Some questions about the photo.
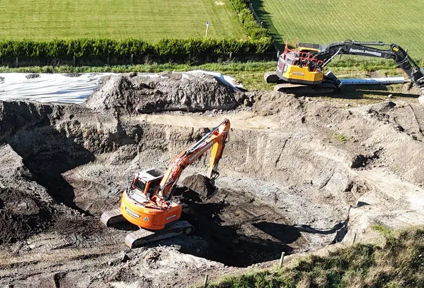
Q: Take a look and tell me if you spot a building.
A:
No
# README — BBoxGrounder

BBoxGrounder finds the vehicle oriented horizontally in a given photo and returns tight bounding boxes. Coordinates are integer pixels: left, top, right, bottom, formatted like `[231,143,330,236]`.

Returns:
[266,35,424,98]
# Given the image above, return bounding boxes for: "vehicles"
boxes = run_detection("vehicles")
[266,35,424,98]
[101,112,236,253]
